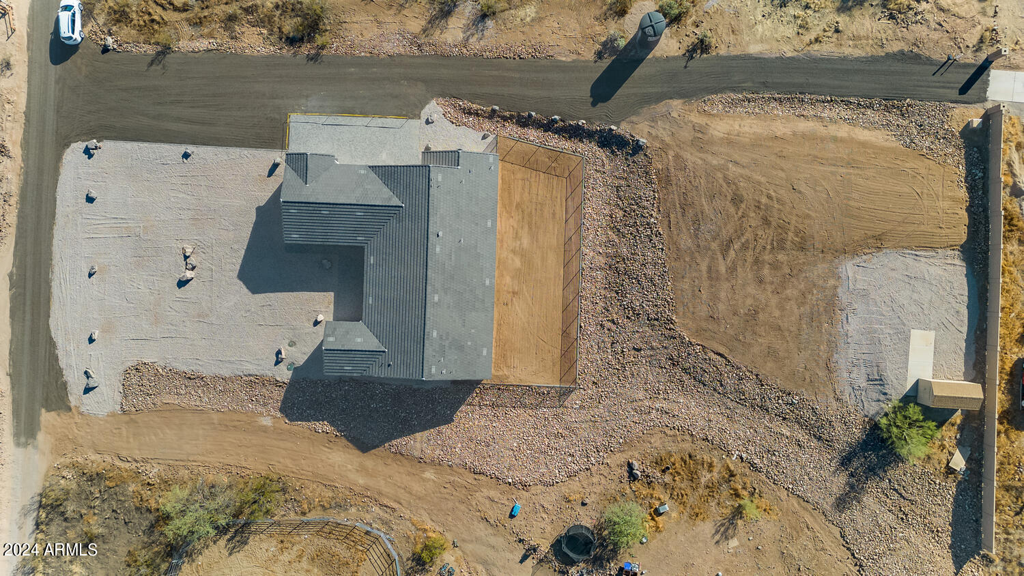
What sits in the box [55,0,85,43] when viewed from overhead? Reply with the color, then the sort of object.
white car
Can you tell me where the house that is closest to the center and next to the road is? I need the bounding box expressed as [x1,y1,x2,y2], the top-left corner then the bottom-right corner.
[279,148,500,383]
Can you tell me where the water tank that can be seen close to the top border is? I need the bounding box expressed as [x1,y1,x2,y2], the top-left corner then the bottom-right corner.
[634,14,666,52]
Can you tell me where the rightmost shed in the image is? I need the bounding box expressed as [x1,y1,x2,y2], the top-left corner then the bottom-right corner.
[917,378,985,409]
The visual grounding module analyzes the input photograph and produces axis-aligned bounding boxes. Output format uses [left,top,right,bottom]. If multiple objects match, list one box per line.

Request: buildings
[917,378,985,409]
[279,148,500,383]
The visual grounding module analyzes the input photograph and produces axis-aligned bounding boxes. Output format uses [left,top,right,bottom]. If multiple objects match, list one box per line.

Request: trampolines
[562,524,596,565]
